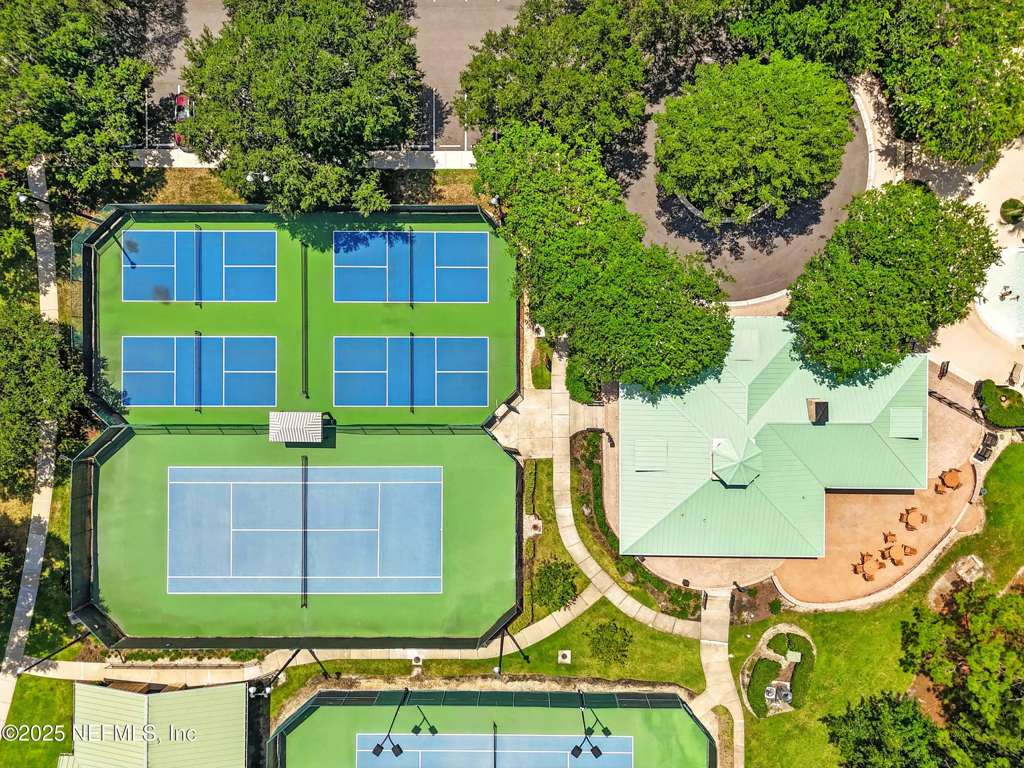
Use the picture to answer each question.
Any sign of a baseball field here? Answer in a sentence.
No, I can't see a single baseball field in this photo.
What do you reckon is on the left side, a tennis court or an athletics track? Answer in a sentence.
The feature located on the left side is a tennis court.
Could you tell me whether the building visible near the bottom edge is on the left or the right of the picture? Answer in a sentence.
It is on the left.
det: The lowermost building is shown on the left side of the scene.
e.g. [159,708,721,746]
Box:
[60,682,251,768]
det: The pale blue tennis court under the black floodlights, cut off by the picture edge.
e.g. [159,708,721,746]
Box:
[279,703,707,768]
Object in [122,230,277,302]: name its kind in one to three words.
sports court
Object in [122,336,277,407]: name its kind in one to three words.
sports court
